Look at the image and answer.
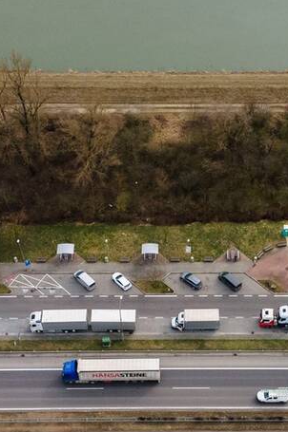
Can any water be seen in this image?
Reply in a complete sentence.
Yes, there is water in the image.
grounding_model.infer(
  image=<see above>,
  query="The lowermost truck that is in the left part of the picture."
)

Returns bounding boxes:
[61,358,160,383]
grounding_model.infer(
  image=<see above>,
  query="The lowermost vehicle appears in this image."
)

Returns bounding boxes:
[257,389,288,403]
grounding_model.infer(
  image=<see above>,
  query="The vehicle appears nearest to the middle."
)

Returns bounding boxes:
[112,272,130,291]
